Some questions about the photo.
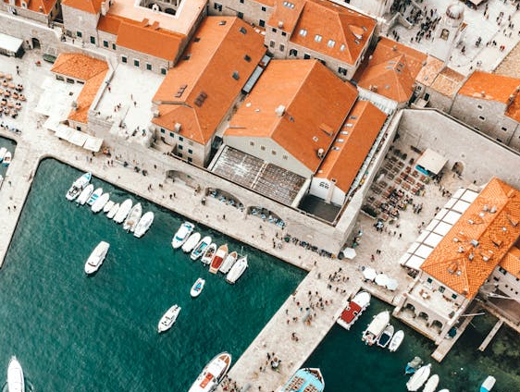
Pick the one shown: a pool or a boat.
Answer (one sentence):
Visible in the photo is a boat.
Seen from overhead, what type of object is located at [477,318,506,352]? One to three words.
pier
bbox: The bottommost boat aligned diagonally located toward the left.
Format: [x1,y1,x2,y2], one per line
[188,350,226,392]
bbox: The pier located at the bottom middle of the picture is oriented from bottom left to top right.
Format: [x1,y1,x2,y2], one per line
[213,271,363,392]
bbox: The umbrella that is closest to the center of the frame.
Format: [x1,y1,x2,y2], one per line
[342,244,358,259]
